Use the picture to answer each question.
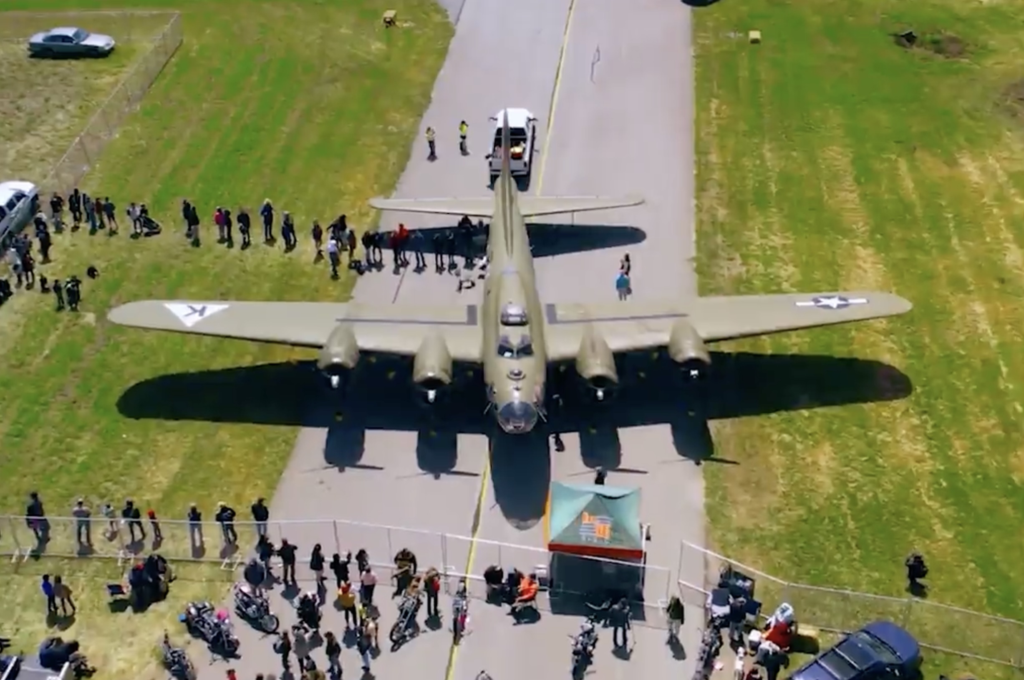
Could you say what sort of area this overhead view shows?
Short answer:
airport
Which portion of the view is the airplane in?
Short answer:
center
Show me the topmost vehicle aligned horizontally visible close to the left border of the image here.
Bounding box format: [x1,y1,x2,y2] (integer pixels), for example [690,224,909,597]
[26,24,114,56]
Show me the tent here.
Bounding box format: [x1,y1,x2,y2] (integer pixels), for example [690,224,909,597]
[537,482,650,604]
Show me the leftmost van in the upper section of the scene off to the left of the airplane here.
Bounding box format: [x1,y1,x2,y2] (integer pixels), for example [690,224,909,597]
[0,184,42,246]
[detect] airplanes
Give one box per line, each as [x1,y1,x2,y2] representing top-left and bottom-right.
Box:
[110,109,910,443]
